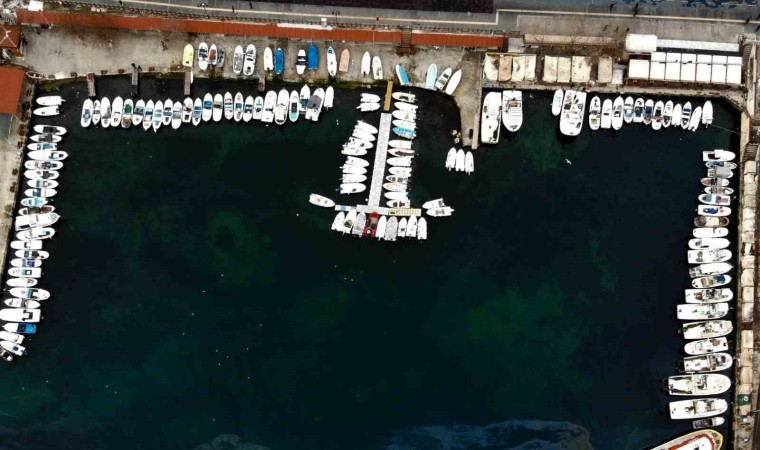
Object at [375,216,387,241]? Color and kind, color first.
white boat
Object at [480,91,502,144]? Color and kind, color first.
white boat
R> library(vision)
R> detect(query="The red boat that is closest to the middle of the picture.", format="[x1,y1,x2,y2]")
[364,212,379,238]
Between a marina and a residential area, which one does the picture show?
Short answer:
marina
